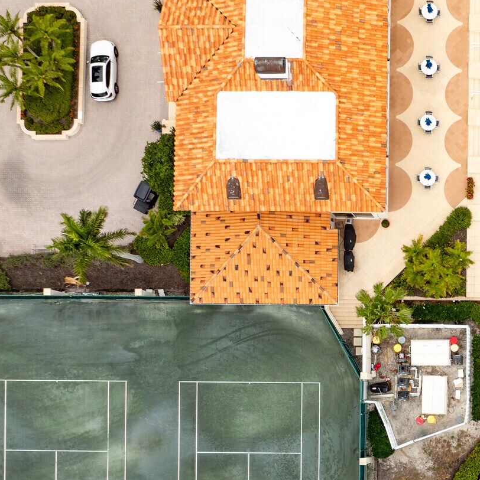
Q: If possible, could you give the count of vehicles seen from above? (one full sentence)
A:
Looking from above, you can make out 2 vehicles.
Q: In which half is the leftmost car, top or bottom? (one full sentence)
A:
The top half of the photo is where the leftmost car is.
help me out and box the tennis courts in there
[0,300,151,480]
[151,301,362,480]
